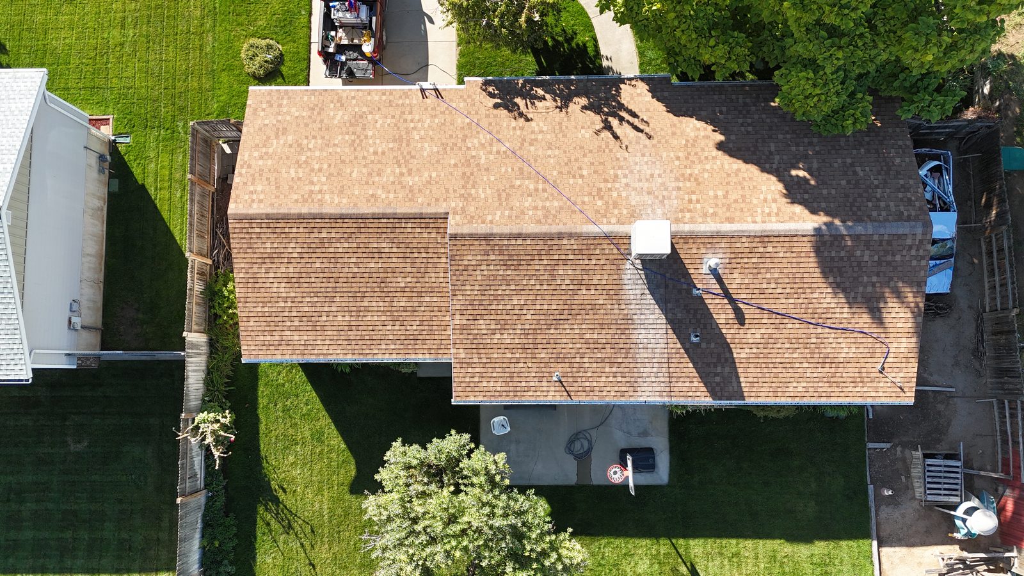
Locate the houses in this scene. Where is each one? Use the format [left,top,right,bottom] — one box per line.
[0,65,118,387]
[228,71,932,409]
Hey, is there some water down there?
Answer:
No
